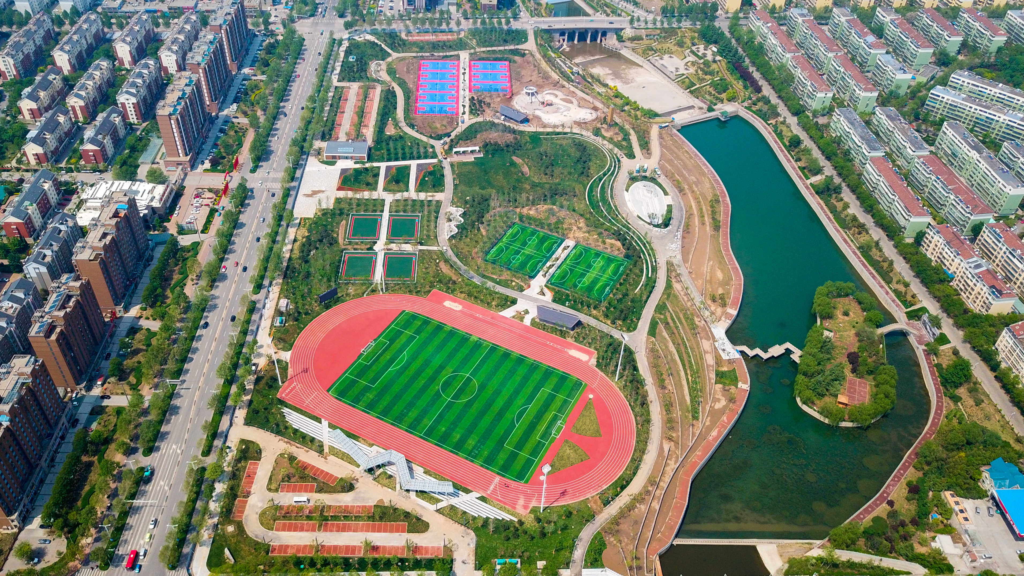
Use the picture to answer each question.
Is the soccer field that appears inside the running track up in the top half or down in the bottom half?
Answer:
bottom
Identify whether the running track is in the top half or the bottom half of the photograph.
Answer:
bottom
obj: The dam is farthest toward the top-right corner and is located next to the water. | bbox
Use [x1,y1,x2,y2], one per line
[671,107,742,129]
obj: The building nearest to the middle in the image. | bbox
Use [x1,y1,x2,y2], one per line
[537,305,580,332]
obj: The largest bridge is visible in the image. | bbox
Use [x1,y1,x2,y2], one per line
[522,16,632,42]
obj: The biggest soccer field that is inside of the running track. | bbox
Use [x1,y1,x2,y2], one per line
[321,306,590,487]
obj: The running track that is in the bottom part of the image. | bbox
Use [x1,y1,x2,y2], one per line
[272,289,634,515]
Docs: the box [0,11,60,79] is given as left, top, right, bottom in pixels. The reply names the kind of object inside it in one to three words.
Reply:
building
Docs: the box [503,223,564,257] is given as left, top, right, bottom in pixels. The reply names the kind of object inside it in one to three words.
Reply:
soccer field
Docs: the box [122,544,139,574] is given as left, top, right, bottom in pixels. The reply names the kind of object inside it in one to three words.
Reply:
vehicle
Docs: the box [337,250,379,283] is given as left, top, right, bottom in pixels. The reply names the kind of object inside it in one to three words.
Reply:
sports court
